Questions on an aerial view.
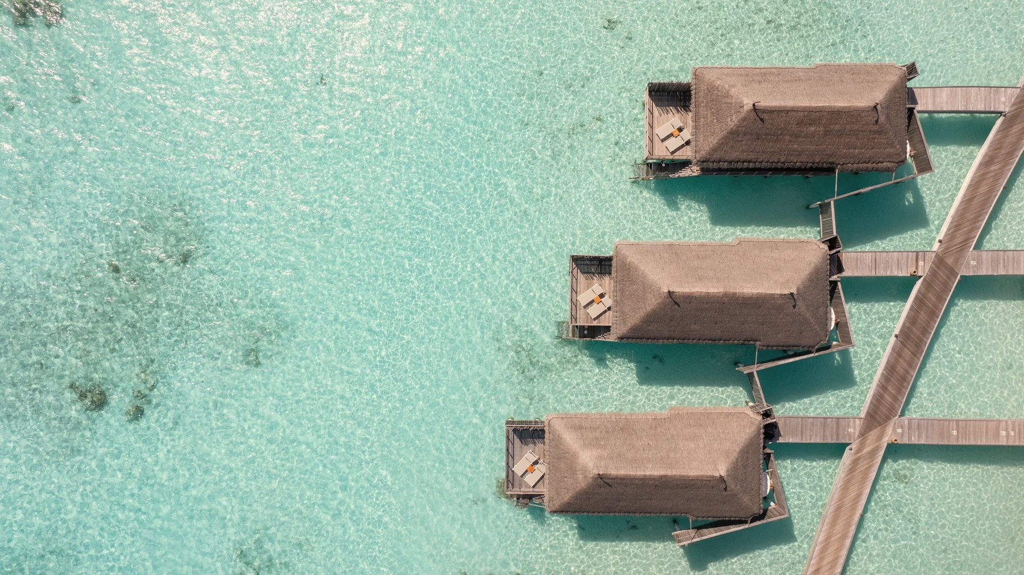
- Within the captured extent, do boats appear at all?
No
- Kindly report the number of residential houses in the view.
3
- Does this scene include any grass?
No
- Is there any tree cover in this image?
No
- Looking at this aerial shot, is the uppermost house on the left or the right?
right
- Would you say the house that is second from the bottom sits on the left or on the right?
right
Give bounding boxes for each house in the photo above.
[498,406,764,521]
[559,235,831,349]
[632,62,910,179]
